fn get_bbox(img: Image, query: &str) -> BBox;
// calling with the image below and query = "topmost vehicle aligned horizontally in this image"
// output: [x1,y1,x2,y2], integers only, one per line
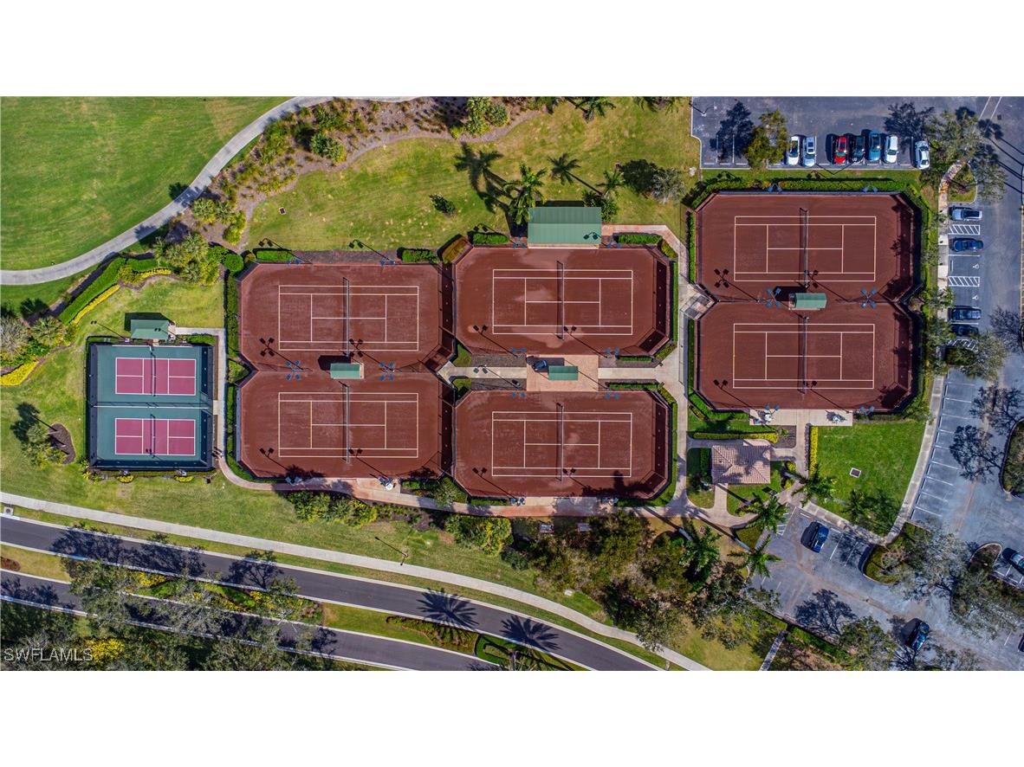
[954,205,986,220]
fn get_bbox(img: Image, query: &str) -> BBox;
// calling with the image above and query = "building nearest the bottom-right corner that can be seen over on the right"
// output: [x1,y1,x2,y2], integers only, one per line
[711,445,771,484]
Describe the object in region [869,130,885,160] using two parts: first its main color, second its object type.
blue car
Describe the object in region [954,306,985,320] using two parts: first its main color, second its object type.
blue car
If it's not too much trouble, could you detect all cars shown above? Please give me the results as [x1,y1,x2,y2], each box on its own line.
[911,623,932,652]
[804,136,819,165]
[835,134,851,163]
[809,524,830,553]
[869,130,885,160]
[954,306,985,320]
[917,140,933,168]
[885,133,901,162]
[788,135,802,163]
[952,323,982,336]
[955,237,986,251]
[853,133,868,162]
[954,205,986,220]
